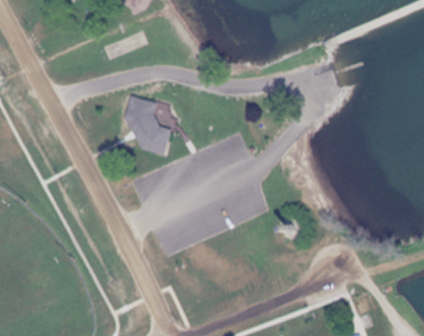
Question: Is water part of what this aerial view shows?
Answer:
Yes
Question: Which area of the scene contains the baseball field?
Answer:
bottom left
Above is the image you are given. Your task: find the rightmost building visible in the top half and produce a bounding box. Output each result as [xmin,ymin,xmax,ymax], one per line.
[125,94,170,156]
